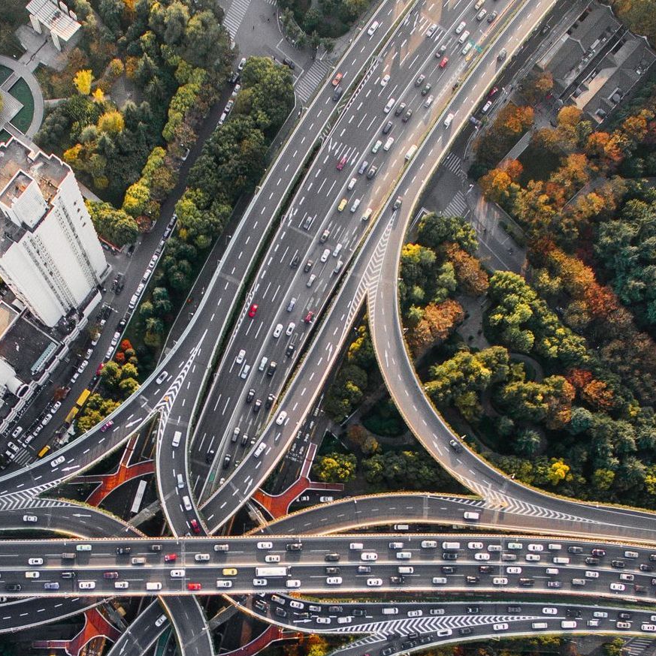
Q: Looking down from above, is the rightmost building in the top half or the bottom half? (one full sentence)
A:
The rightmost building sits in the top half of the picture.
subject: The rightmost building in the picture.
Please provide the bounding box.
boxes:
[611,31,656,77]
